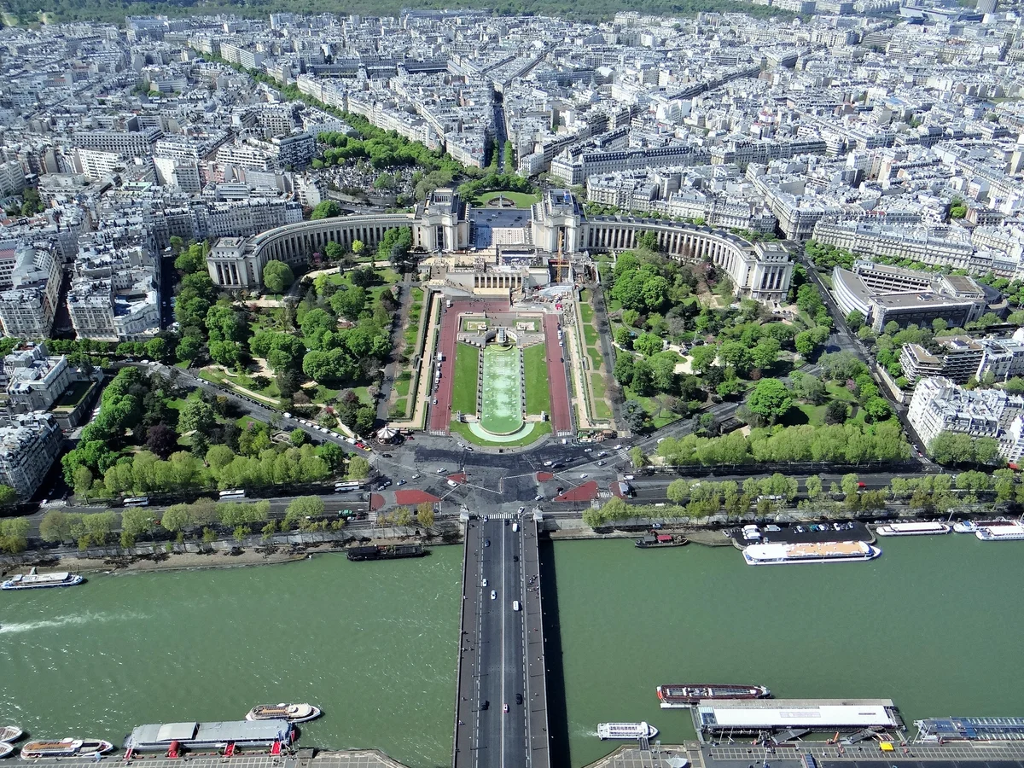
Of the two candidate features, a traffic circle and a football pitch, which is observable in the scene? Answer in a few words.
traffic circle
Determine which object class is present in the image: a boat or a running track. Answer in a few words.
boat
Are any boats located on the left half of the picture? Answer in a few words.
Yes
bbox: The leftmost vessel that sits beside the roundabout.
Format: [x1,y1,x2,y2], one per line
[348,547,426,564]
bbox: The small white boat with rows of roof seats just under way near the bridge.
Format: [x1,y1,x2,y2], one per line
[598,722,658,742]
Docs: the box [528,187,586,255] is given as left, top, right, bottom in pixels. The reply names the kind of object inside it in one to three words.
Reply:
building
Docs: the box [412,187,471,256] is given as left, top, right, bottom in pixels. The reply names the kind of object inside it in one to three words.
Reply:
building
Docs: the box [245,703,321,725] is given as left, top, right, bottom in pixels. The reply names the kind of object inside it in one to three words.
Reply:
boat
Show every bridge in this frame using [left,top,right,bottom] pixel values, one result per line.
[452,522,552,768]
